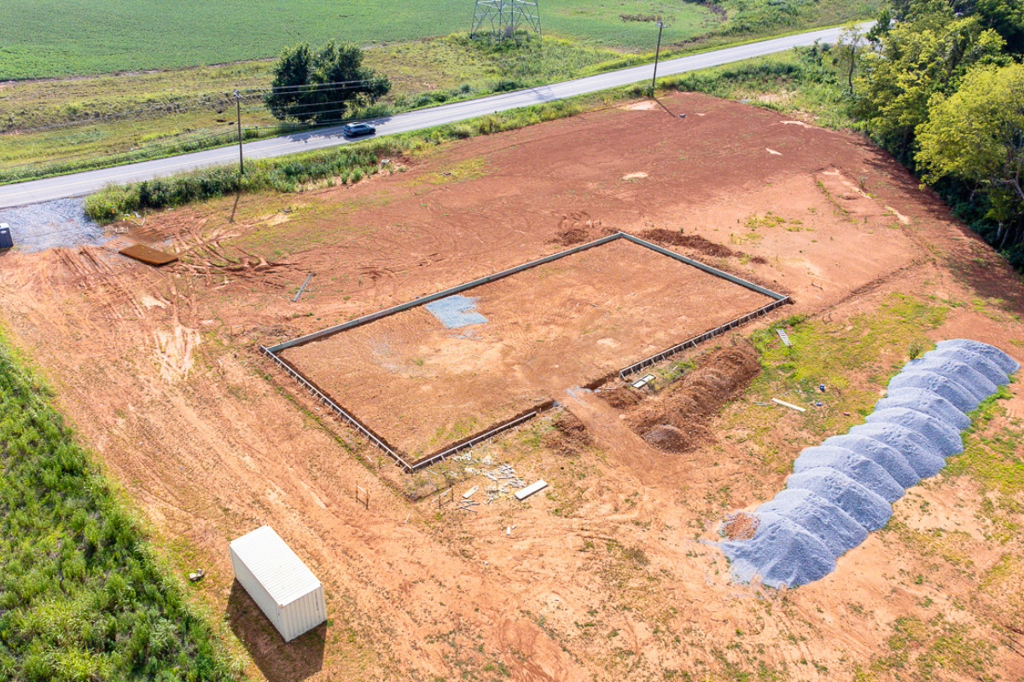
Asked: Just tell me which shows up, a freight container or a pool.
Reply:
freight container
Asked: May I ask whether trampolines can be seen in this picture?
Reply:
No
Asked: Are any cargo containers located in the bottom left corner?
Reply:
Yes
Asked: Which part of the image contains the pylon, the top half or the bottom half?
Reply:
top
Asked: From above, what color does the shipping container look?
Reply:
white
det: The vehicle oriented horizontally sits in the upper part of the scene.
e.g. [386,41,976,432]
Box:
[343,122,377,137]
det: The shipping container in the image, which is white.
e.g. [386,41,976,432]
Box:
[229,525,327,642]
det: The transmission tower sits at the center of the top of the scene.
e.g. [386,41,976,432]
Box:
[468,0,544,47]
